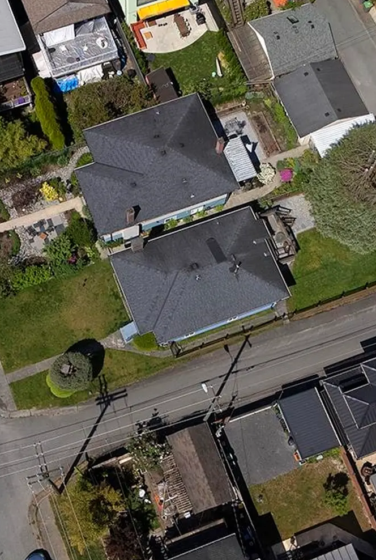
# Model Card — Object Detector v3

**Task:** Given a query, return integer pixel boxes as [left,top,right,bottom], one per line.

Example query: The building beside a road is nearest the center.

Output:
[108,206,291,349]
